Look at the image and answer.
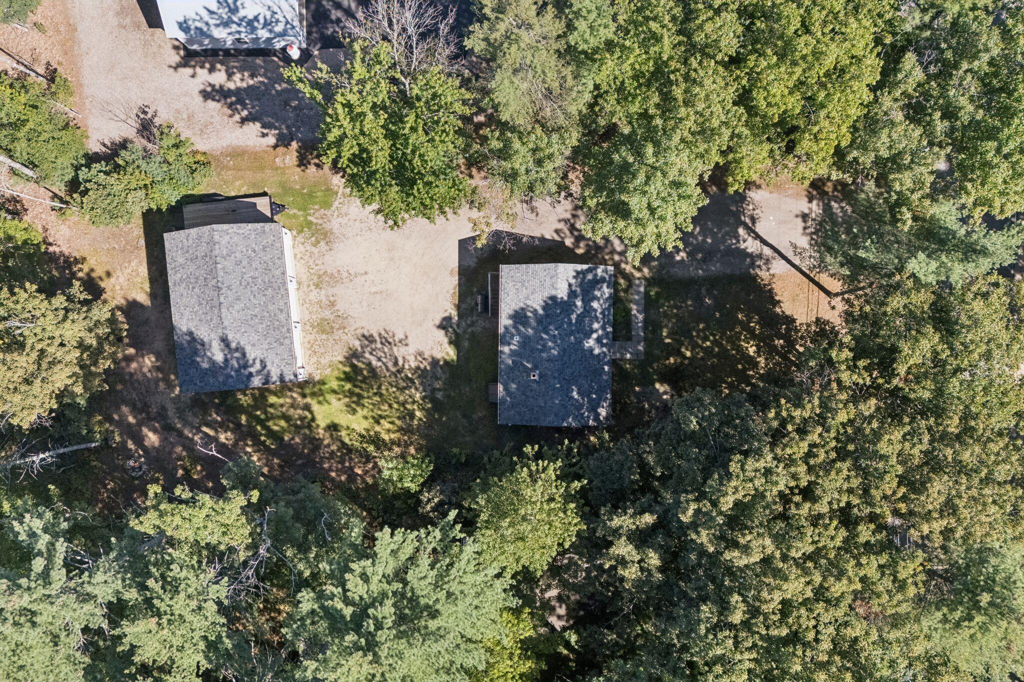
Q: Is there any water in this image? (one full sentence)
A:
No, no water is visible.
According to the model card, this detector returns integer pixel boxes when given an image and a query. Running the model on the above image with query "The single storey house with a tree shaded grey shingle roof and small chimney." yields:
[496,262,614,428]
